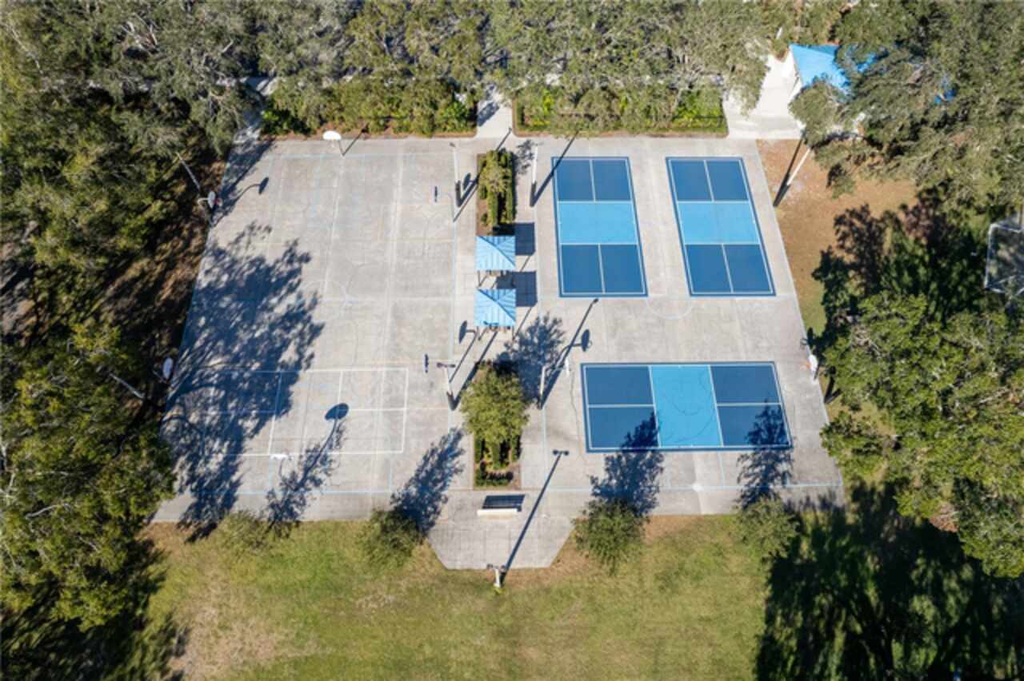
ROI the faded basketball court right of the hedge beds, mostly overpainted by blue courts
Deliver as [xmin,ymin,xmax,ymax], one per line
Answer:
[530,138,839,492]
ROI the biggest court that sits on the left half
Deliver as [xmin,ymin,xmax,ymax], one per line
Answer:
[150,138,458,497]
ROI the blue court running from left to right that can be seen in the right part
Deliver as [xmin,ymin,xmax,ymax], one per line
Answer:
[580,361,796,452]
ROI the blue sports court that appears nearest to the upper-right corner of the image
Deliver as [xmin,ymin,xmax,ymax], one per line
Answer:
[666,156,776,296]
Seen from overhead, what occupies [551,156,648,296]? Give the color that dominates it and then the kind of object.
blue sports court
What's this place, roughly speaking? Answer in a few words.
sports ground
